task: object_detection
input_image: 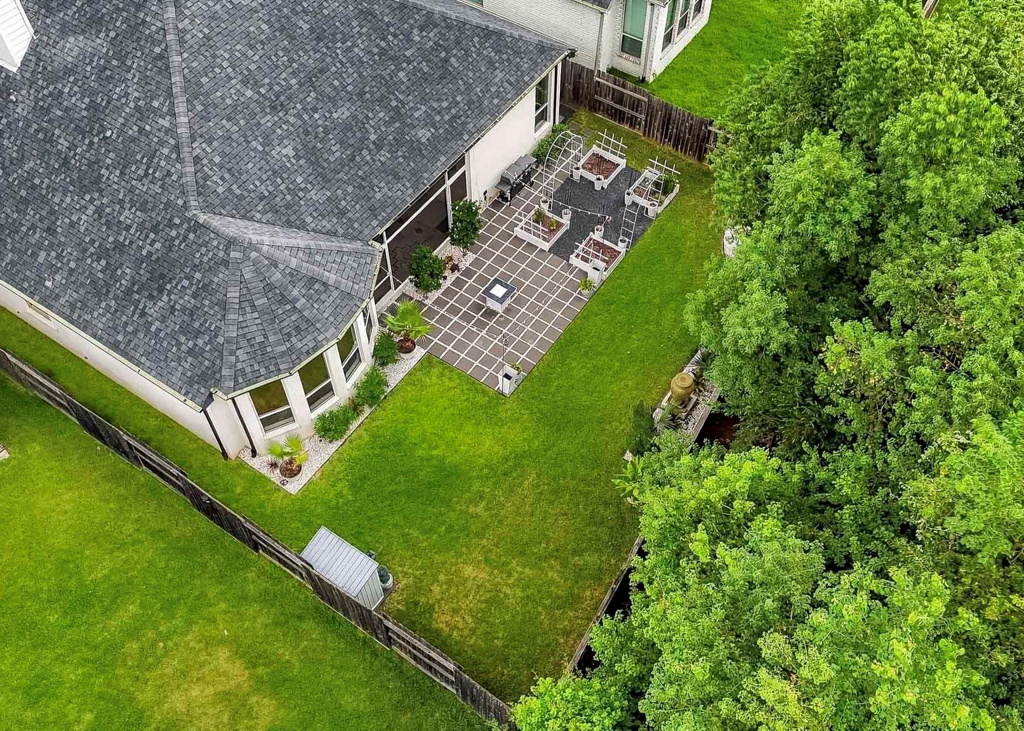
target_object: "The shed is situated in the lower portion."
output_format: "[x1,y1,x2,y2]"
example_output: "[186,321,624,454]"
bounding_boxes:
[301,522,384,606]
